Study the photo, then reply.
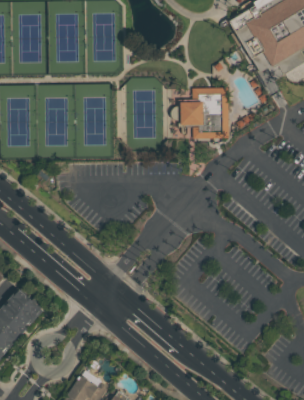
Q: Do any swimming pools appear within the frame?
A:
Yes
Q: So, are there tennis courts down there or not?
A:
Yes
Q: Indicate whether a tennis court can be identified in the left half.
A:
Yes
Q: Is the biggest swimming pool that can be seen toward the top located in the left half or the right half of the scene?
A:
right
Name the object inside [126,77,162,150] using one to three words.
tennis court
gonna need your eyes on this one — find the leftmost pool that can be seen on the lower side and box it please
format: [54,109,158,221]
[98,358,116,382]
